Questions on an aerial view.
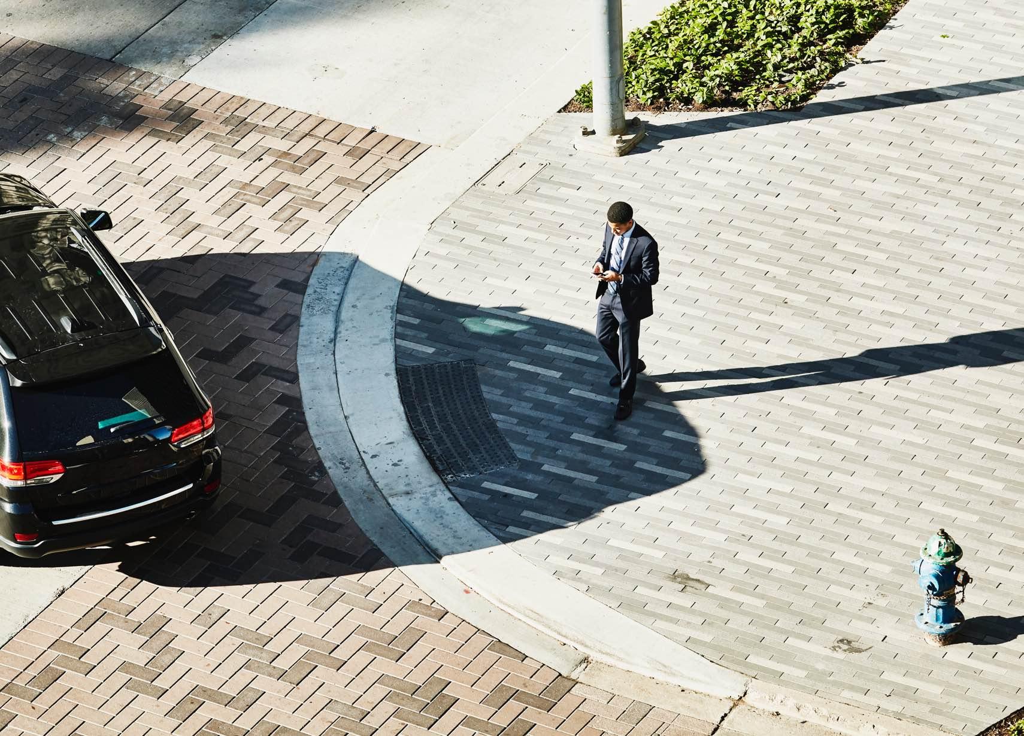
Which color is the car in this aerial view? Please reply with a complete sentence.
The car is black.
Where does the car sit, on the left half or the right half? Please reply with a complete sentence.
The car sits on the left side.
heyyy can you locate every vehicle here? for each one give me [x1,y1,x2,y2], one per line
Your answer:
[0,177,223,564]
